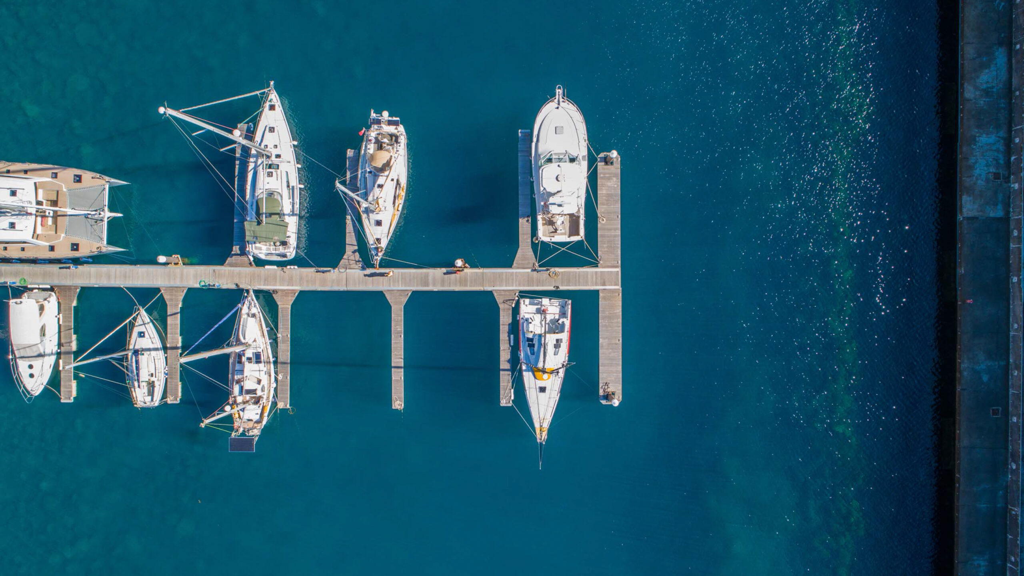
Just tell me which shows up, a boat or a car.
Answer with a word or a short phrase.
boat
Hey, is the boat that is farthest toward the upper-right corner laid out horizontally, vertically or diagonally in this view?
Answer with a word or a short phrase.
vertically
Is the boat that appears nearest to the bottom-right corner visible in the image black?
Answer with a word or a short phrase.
No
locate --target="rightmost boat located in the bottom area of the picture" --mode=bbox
[518,298,576,469]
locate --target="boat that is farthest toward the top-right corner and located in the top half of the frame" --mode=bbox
[531,82,589,243]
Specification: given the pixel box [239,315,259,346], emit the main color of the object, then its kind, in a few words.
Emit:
white boat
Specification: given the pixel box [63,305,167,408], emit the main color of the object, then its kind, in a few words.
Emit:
white boat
